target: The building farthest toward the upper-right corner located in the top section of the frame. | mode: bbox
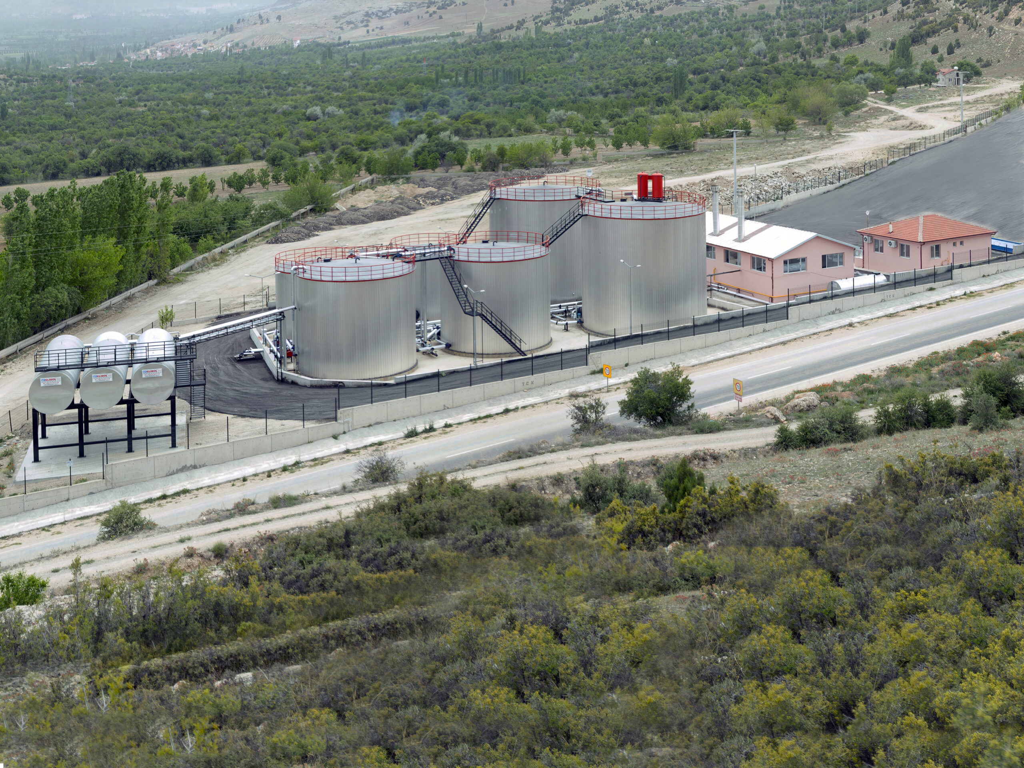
[935,63,964,86]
